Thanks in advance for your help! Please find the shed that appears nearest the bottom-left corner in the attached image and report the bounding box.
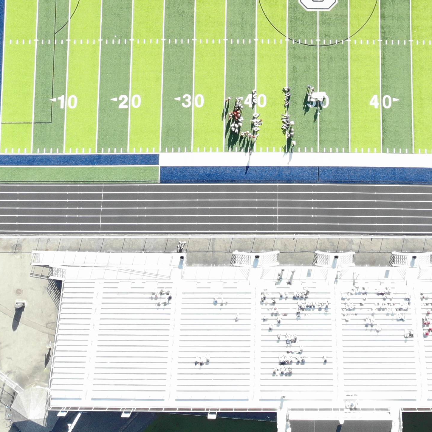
[6,382,55,432]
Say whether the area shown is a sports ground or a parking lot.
sports ground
